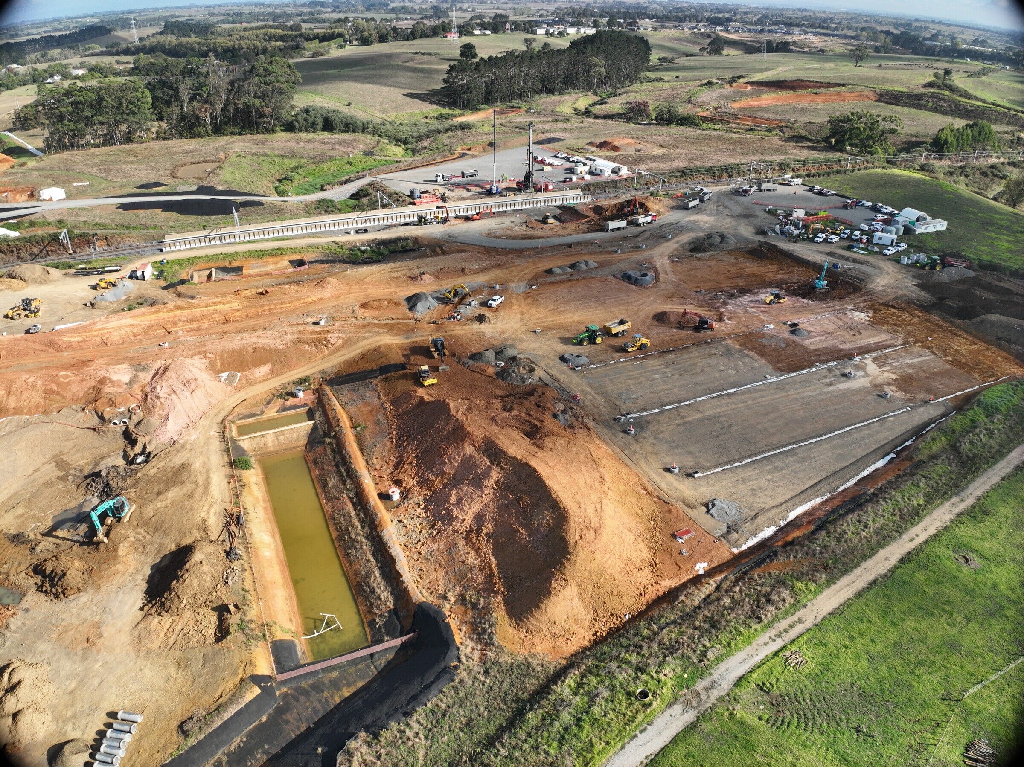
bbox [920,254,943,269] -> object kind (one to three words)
work vehicle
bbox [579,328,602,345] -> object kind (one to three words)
work vehicle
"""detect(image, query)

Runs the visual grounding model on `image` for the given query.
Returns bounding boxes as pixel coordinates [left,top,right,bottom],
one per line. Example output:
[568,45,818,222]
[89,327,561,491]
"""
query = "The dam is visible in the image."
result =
[234,407,317,448]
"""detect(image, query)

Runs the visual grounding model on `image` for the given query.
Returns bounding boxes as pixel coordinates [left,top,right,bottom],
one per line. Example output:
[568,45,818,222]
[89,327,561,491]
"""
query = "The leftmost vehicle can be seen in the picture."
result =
[7,301,39,318]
